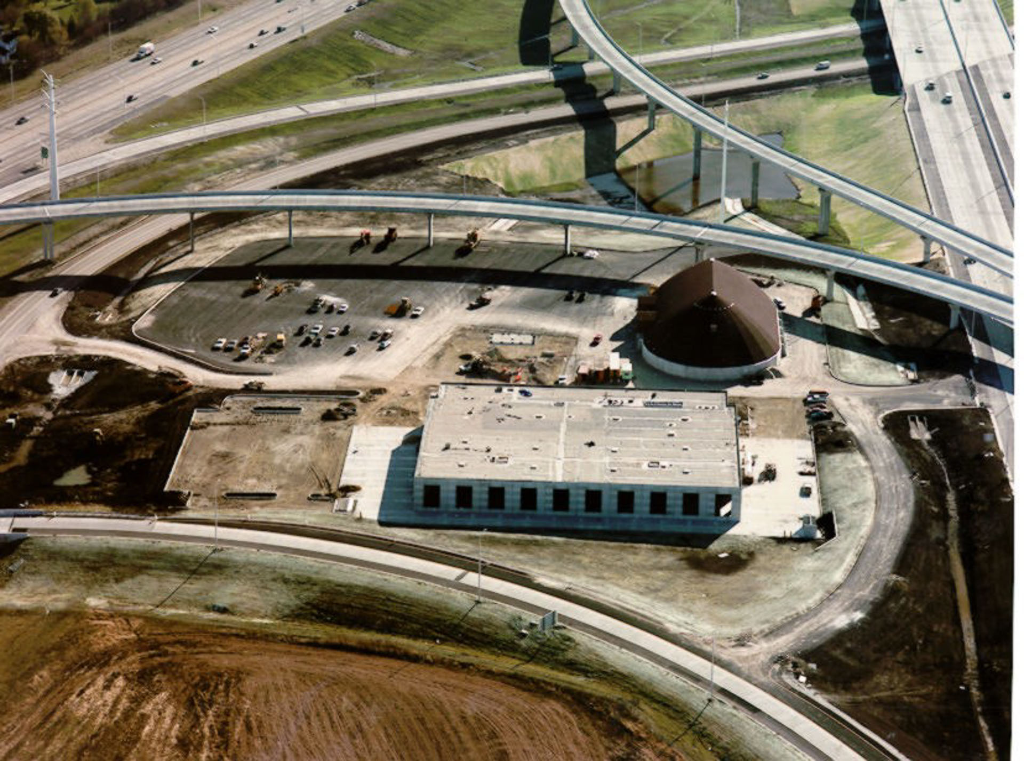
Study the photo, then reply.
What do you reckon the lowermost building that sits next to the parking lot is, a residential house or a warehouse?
warehouse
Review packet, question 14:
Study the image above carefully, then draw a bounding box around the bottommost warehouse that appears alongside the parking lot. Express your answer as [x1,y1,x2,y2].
[414,384,741,521]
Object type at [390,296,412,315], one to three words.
vehicle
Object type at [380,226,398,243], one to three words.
work vehicle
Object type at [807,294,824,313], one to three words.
work vehicle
